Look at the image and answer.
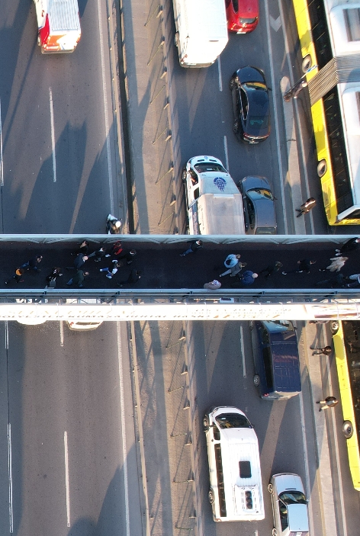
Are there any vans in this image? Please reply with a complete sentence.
Yes, looking at the shot, I can spot a van.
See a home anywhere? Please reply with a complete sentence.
No, no home is visible in the scene.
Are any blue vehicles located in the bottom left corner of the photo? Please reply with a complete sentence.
No, the scene shows no blue vehicle in the bottom left corner of the photo.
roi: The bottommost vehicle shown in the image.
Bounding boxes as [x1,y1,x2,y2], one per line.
[269,475,314,536]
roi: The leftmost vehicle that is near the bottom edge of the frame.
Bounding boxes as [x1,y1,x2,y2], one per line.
[207,411,272,518]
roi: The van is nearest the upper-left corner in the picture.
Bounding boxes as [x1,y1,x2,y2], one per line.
[38,0,85,48]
